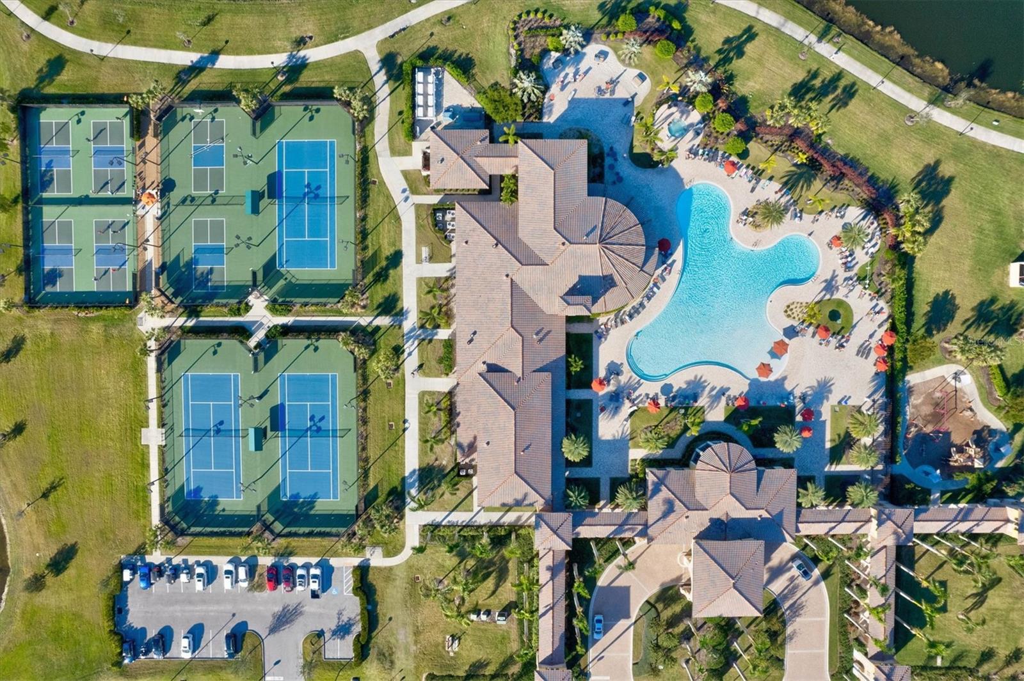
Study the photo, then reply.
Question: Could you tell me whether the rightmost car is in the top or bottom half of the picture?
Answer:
bottom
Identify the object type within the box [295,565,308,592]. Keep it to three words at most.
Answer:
vehicle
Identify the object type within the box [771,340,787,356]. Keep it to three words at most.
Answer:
umbrella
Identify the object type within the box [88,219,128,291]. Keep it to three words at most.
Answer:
sports court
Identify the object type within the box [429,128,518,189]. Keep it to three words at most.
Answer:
building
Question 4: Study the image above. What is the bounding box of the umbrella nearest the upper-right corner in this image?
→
[828,234,844,249]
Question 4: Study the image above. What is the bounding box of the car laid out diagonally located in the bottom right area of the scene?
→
[792,556,812,582]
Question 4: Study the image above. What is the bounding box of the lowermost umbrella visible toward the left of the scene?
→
[142,191,159,207]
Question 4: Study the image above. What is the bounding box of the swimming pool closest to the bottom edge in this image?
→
[625,180,823,383]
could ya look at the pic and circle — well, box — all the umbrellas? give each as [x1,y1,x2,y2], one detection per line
[798,424,813,440]
[756,361,771,378]
[798,407,814,422]
[142,191,159,207]
[956,374,972,385]
[880,330,896,345]
[872,342,888,357]
[828,234,844,249]
[659,237,672,253]
[771,340,787,356]
[815,324,830,340]
[734,395,749,410]
[721,160,737,176]
[644,397,660,413]
[873,356,889,372]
